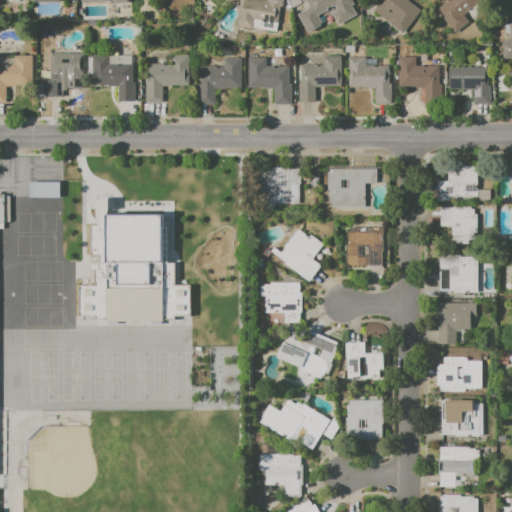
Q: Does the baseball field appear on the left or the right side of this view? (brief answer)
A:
left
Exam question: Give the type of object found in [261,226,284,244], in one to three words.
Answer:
swimming pool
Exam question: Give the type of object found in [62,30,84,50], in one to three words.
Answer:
swimming pool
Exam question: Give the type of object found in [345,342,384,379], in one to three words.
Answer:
house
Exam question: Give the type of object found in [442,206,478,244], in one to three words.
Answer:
house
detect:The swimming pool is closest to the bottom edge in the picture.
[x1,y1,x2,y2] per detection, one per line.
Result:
[312,396,333,413]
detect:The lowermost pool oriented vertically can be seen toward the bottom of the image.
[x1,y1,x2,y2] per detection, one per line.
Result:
[266,354,280,380]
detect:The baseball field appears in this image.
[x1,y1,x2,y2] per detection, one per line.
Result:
[29,426,96,497]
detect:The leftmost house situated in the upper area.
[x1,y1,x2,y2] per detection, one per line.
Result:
[0,55,32,103]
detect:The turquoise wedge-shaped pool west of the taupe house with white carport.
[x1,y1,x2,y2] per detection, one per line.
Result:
[220,8,238,32]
